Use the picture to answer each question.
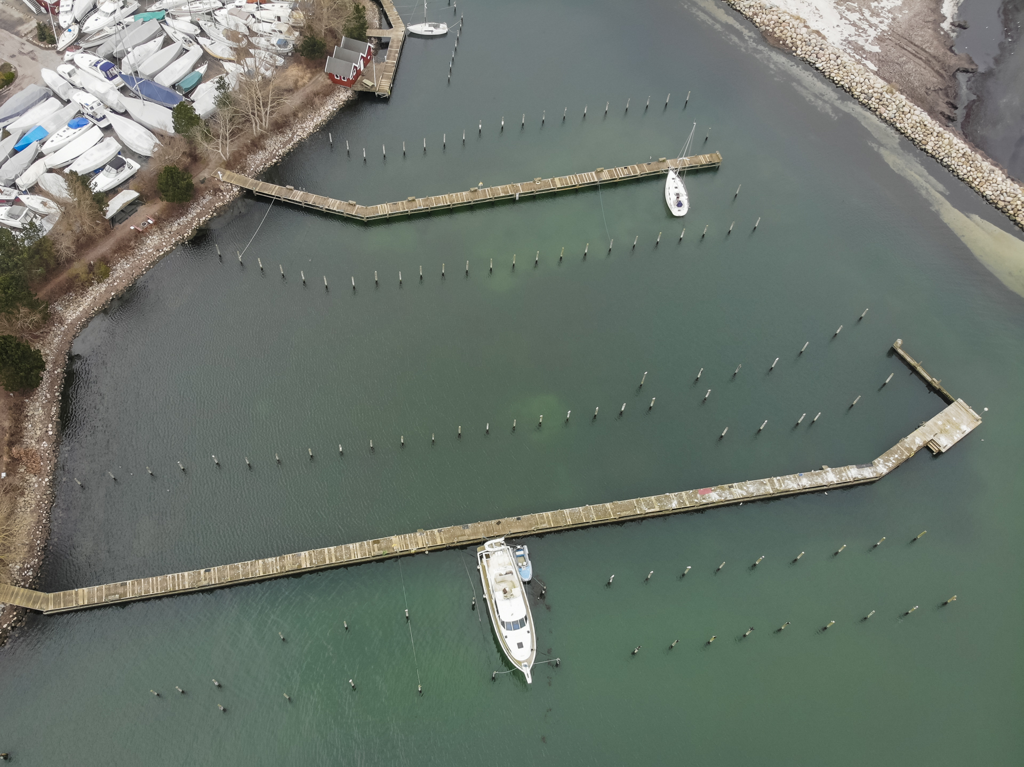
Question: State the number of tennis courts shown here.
none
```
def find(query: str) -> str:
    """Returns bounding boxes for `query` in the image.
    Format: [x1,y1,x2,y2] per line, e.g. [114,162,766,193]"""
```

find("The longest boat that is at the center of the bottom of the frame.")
[474,536,538,683]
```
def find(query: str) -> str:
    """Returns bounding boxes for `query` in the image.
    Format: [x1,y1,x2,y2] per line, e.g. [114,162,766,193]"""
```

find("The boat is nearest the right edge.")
[664,126,692,219]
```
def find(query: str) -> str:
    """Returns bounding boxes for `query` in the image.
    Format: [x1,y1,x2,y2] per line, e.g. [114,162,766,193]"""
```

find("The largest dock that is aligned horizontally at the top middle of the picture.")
[212,150,722,224]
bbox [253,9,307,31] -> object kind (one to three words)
boat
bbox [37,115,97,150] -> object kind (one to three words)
boat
